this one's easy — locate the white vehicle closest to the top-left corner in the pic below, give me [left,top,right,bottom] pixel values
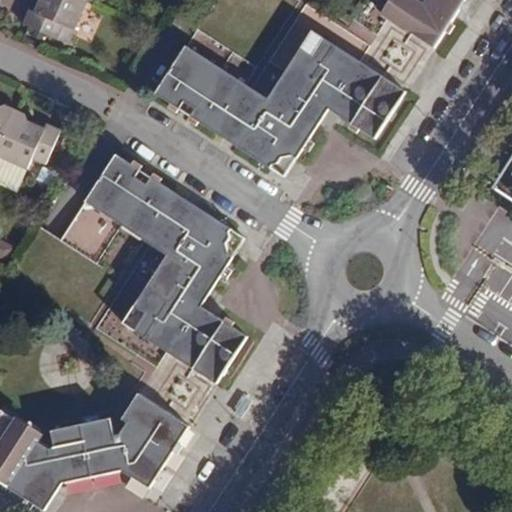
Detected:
[132,140,160,162]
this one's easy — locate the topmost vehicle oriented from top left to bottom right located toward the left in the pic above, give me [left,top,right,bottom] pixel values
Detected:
[148,106,173,127]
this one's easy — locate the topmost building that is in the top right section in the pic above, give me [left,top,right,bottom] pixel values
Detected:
[386,0,466,47]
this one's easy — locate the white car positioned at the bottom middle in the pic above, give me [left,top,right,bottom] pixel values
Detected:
[197,458,217,483]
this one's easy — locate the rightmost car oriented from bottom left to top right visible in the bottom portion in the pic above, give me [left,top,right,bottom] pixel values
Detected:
[220,422,240,447]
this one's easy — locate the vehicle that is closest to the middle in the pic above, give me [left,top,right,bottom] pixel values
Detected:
[236,209,260,228]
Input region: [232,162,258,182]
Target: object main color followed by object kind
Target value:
white car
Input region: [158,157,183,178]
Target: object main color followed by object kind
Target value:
white car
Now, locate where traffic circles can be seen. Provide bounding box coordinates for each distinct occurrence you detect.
[286,192,439,343]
